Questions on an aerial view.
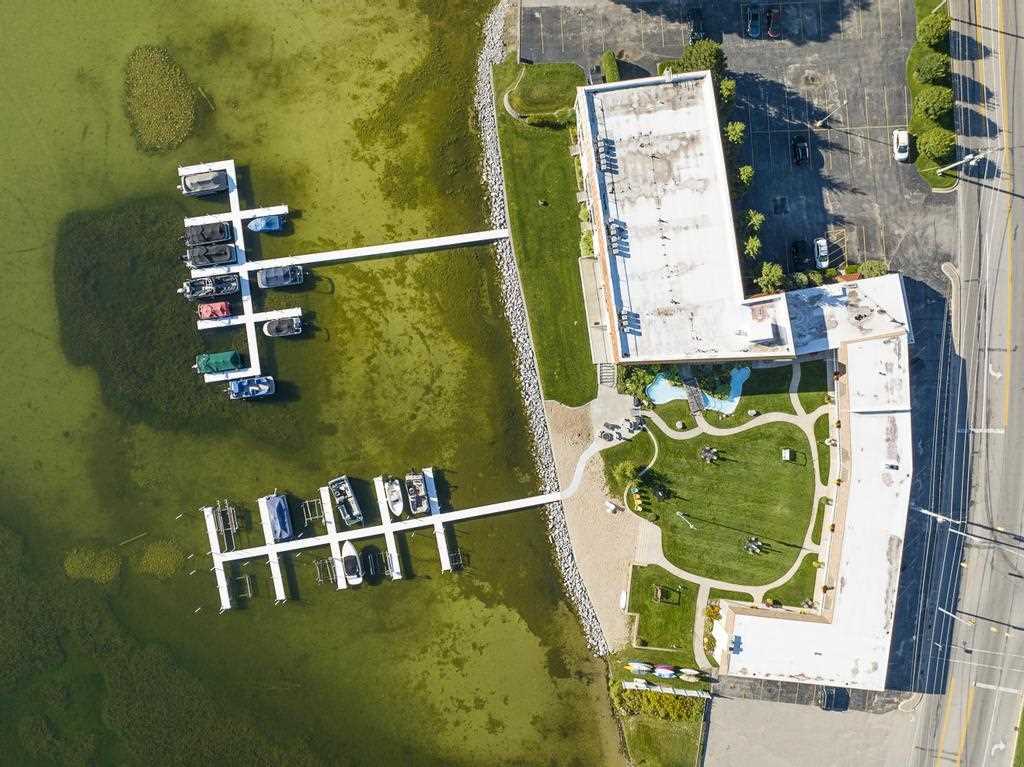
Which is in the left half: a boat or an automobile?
boat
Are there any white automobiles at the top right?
Yes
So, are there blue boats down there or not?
Yes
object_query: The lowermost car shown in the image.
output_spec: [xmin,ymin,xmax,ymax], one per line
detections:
[821,684,838,711]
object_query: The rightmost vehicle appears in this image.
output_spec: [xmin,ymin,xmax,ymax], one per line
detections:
[892,130,909,163]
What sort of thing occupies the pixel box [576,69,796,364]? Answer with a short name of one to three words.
building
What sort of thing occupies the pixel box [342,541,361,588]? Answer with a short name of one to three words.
boat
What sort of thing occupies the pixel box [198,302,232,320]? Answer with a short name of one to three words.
boat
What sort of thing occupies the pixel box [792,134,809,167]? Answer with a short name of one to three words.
car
